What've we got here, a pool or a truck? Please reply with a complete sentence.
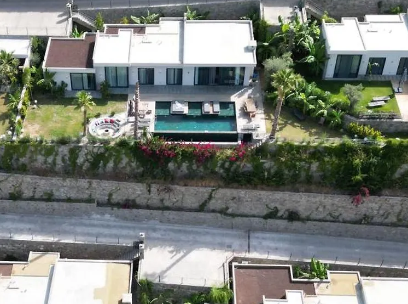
Visible in the photo is a pool.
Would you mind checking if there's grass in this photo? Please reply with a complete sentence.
Yes, there is grass in the image.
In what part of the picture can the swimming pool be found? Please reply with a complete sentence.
The swimming pool appears toward the center of the photo.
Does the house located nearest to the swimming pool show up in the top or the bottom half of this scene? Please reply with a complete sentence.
Seen from above, the house located nearest to the swimming pool lies in the top half of the view.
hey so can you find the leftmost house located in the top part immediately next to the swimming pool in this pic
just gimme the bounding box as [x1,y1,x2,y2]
[43,17,258,90]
